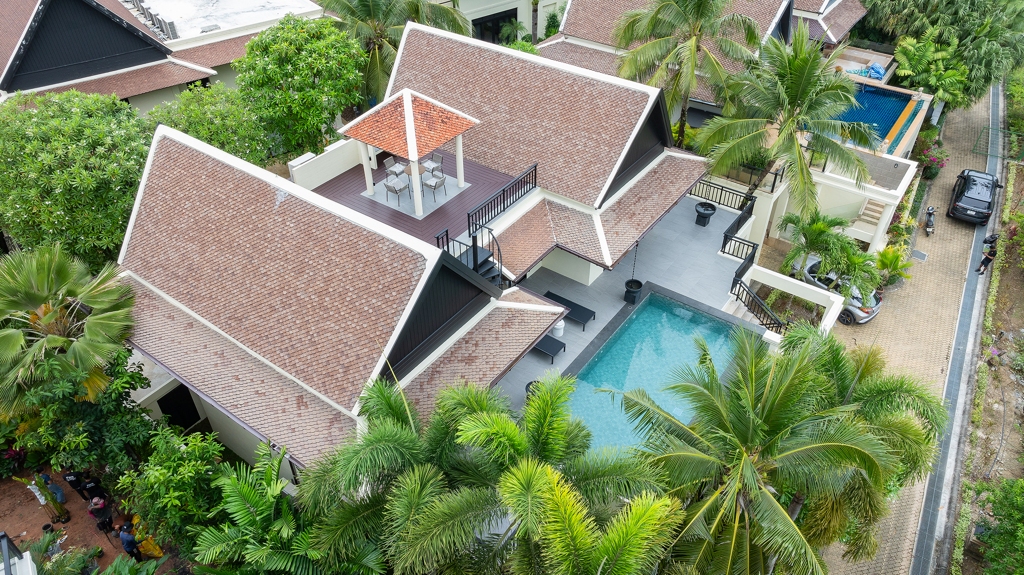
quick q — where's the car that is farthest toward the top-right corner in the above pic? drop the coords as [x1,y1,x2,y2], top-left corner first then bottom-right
[947,170,1003,225]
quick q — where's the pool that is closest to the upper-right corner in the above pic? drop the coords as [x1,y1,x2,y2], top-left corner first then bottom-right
[781,73,939,169]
